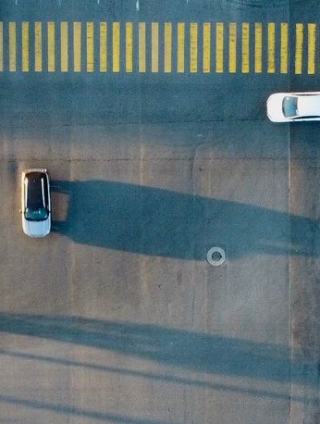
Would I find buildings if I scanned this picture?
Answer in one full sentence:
No, no building is visible in the view.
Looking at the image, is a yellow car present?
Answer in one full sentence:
No, there is no yellow car in the image.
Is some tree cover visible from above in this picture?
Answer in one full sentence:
No, tree cover can't be seen anywhere here.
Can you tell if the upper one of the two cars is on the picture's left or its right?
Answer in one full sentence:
The upper one of the two cars appears in the right half of the scene.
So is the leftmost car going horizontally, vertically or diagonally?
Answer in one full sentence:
The leftmost car is oriented vertically.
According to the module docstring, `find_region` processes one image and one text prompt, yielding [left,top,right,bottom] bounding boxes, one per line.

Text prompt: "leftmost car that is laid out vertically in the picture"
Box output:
[20,170,52,236]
